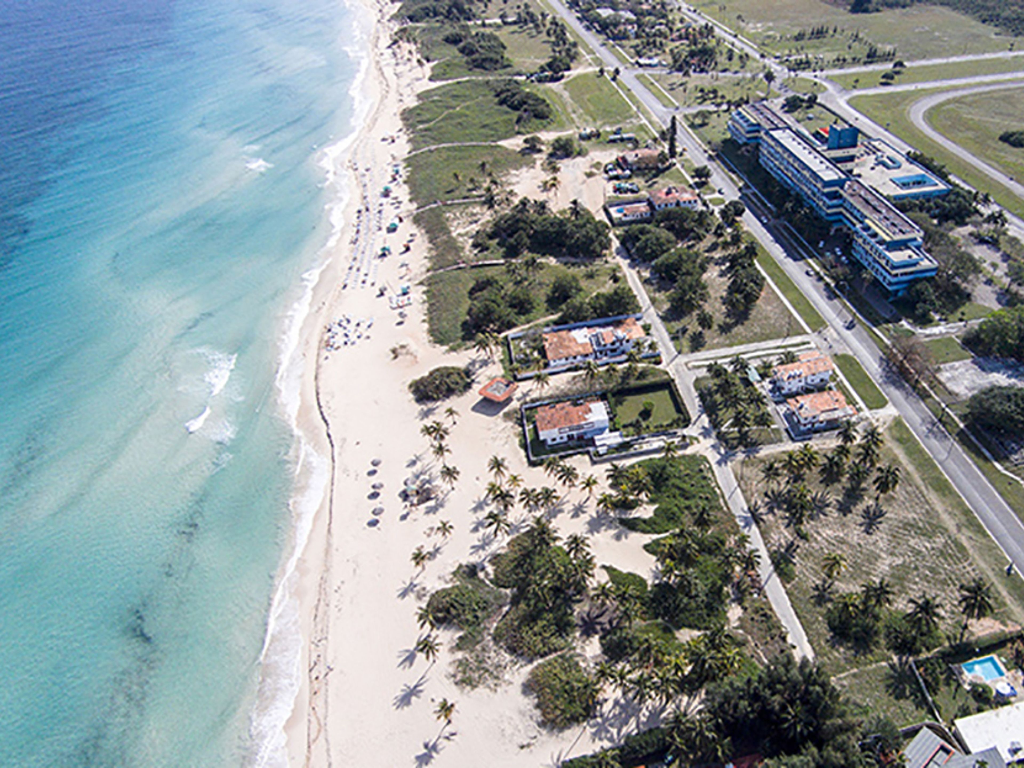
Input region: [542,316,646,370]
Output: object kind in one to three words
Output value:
house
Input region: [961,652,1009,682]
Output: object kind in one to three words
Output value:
swimming pool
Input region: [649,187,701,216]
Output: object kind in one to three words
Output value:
house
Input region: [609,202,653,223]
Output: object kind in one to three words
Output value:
shed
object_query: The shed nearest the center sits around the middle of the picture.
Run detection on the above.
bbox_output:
[479,379,517,406]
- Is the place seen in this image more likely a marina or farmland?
marina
